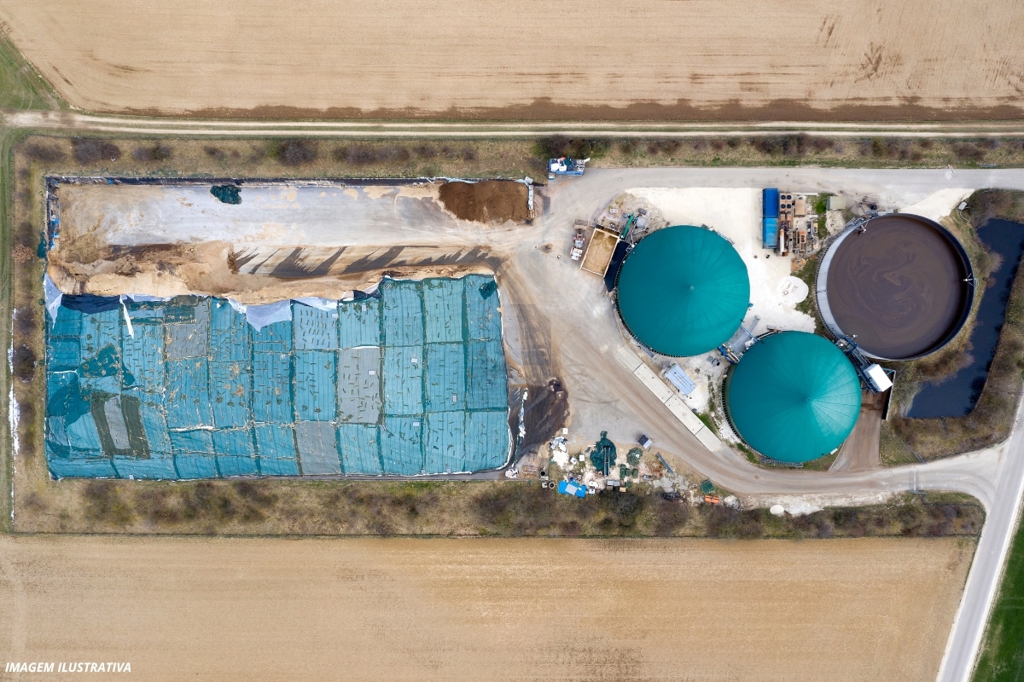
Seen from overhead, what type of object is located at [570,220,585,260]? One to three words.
work vehicle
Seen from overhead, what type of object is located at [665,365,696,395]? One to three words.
shed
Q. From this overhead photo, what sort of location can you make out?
industrial area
